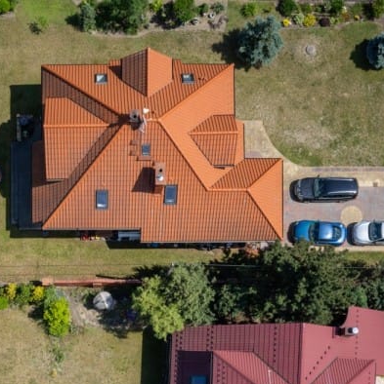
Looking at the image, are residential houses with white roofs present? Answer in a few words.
No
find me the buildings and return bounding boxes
[32,47,285,243]
[170,307,384,384]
